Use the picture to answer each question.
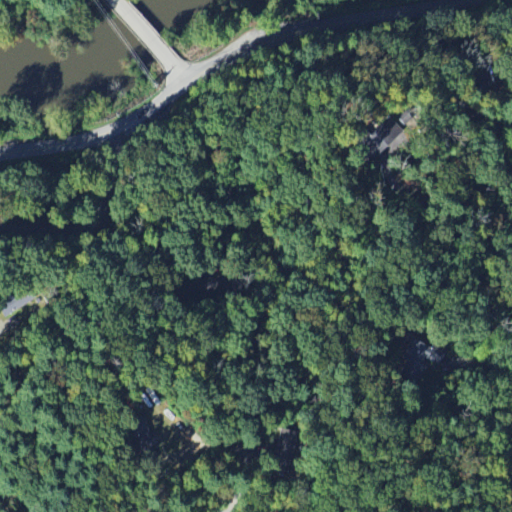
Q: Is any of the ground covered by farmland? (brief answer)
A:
No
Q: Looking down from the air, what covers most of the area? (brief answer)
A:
trees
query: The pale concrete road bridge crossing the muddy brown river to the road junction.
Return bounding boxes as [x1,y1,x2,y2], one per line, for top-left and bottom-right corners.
[106,0,184,68]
